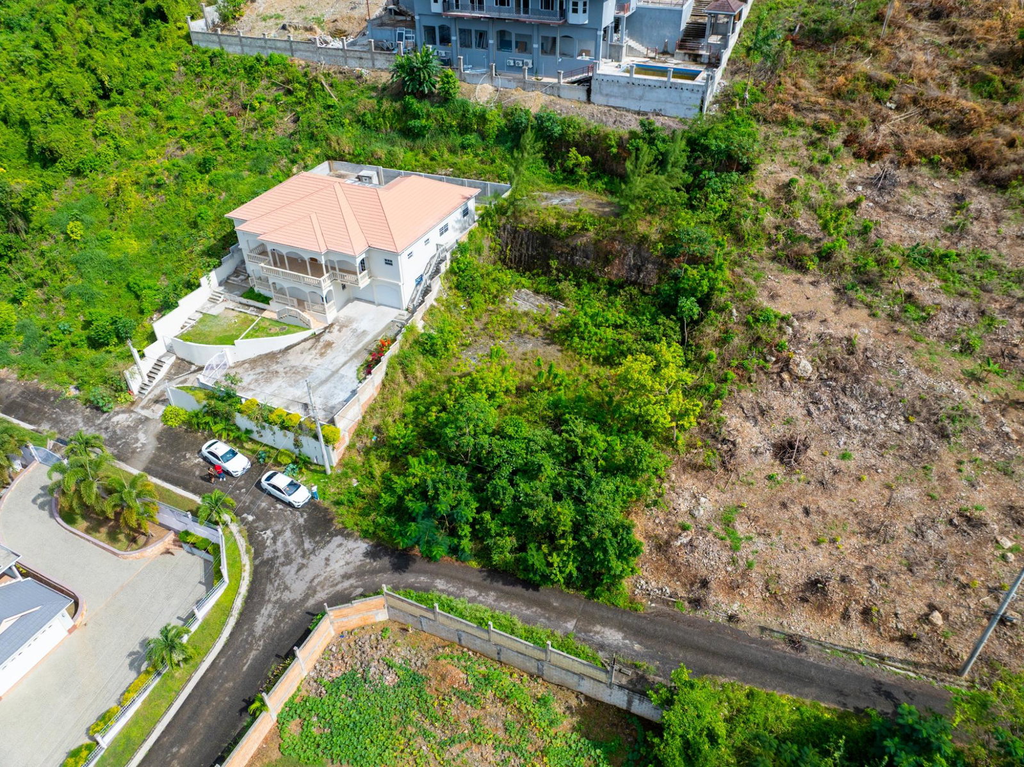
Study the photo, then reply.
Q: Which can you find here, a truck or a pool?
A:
pool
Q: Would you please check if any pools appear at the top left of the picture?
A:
No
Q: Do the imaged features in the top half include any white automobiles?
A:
No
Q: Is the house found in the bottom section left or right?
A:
left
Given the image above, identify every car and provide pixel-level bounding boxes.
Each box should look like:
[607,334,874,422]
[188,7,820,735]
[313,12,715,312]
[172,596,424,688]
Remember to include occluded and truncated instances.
[255,473,313,513]
[195,442,251,479]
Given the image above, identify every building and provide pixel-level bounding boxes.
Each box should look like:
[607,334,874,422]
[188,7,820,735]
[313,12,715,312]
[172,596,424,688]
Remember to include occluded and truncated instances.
[386,0,701,71]
[224,172,482,321]
[0,541,77,691]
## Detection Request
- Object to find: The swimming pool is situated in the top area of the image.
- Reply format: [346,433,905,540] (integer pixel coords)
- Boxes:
[589,49,714,109]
